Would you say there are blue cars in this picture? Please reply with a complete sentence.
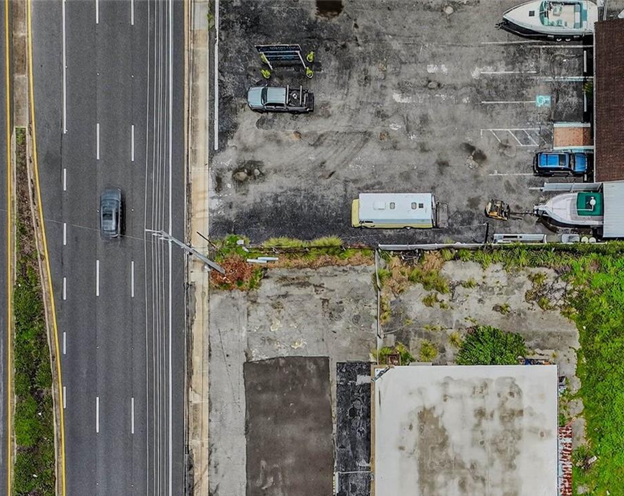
Yes, the picture does show a blue car.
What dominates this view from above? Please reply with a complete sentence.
The bulk of the photo consists of paved ground.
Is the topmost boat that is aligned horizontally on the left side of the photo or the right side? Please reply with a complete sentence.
It is on the right.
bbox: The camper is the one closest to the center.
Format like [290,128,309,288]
[353,193,435,227]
